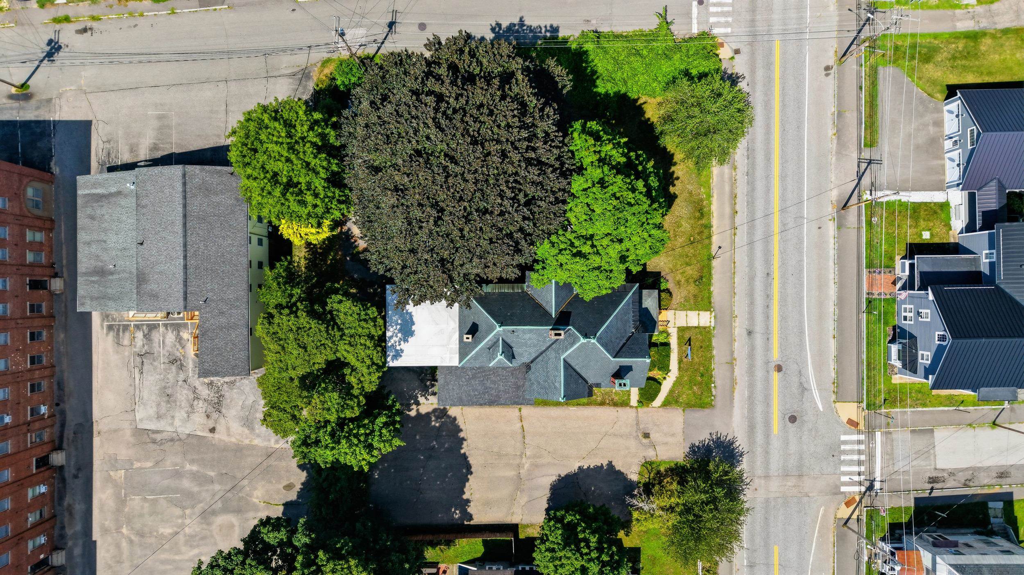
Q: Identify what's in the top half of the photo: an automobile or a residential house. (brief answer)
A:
residential house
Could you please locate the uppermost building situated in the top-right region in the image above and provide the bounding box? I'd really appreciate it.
[944,89,1024,190]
